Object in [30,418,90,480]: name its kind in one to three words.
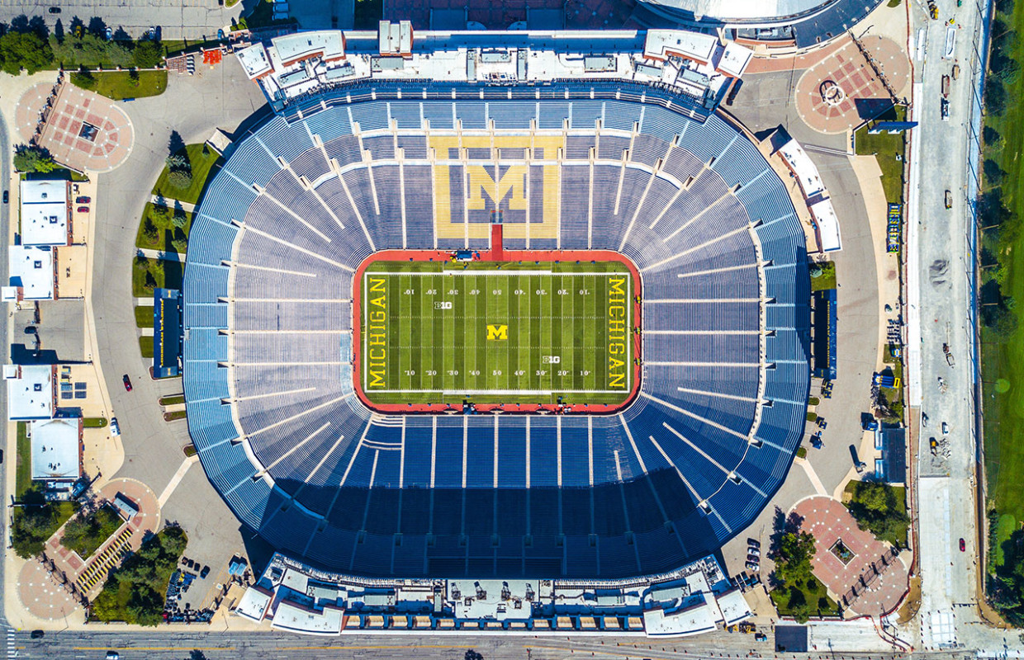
building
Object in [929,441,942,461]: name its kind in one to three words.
vehicle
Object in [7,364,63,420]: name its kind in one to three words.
building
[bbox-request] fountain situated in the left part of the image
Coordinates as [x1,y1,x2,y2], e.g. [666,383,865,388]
[75,119,100,143]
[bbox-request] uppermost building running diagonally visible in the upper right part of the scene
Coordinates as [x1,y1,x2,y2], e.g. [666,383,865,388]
[775,138,826,197]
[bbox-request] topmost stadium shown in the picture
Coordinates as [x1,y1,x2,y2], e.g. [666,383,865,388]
[595,0,906,61]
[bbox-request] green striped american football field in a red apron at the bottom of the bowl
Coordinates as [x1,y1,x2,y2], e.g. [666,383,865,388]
[361,261,635,404]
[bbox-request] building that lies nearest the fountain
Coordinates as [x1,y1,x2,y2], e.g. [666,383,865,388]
[20,180,78,246]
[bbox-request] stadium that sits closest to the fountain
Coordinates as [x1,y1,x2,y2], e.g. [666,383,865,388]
[183,100,811,576]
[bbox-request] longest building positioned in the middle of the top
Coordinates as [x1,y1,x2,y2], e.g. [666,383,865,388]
[235,20,756,134]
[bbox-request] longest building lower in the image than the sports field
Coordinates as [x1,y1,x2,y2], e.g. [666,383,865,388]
[234,544,755,639]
